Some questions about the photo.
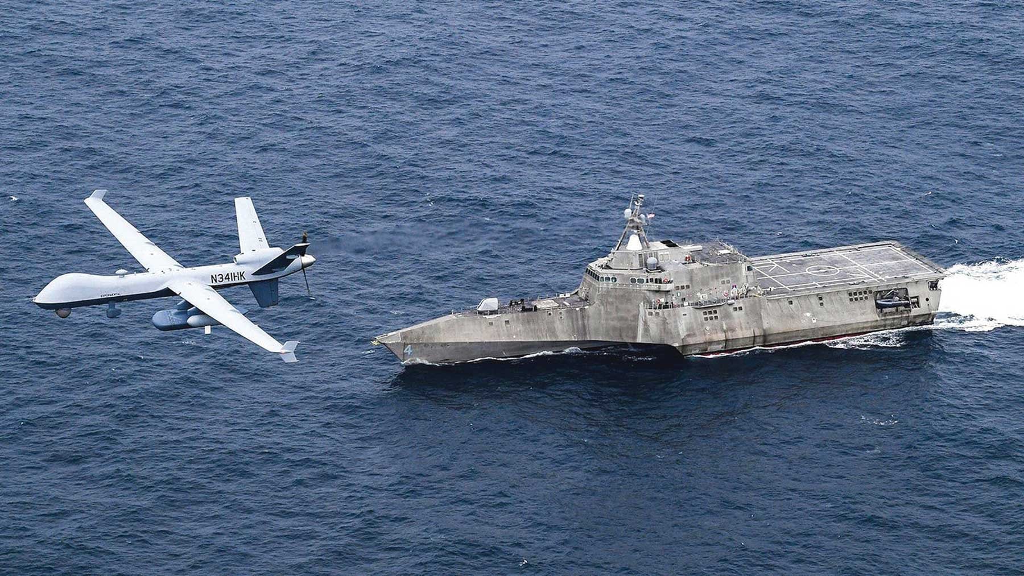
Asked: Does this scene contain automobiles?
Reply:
No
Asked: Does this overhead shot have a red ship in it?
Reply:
No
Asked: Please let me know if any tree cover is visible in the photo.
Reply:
No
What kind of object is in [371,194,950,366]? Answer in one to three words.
ship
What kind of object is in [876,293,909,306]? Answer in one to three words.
boat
